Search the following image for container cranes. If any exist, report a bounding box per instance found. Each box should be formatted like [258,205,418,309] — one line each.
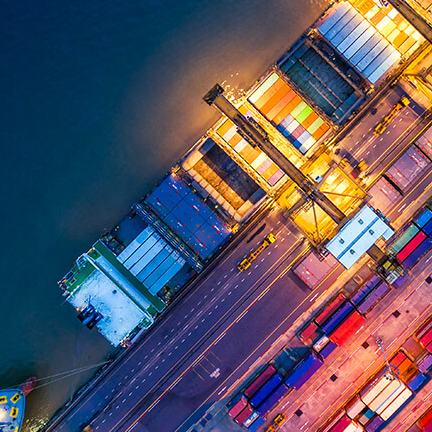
[373,0,432,127]
[200,82,413,290]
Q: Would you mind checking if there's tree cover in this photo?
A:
No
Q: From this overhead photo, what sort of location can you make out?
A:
port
